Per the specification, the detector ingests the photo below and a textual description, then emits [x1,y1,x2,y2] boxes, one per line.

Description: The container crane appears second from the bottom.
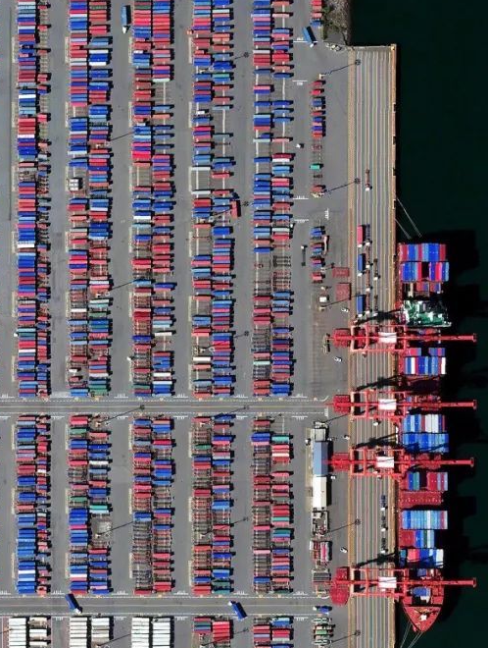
[332,444,476,481]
